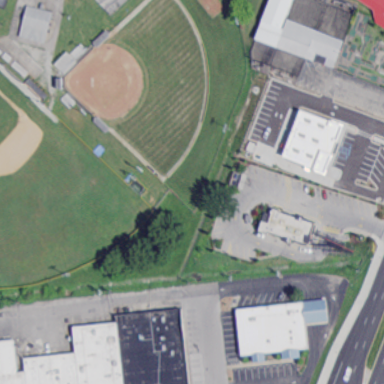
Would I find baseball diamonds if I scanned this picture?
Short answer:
Yes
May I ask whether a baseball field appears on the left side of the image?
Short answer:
Yes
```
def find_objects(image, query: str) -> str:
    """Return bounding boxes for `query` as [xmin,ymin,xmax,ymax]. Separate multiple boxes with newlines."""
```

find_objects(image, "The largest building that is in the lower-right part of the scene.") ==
[236,299,330,363]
